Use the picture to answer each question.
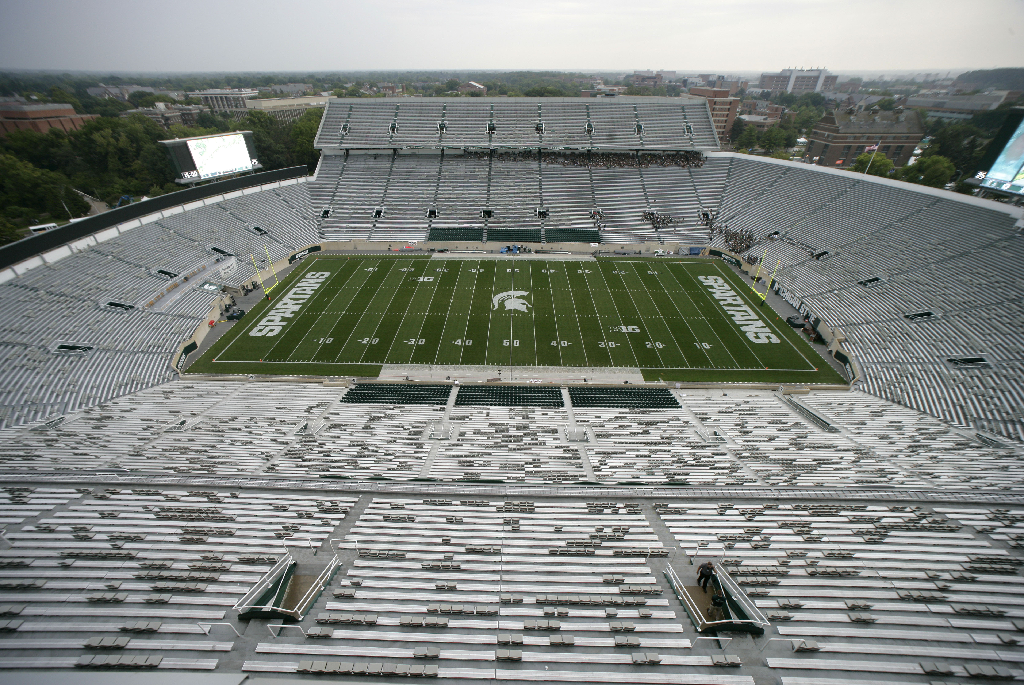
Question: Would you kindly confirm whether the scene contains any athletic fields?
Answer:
Yes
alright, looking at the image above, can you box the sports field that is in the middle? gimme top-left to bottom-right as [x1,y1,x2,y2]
[180,254,847,383]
